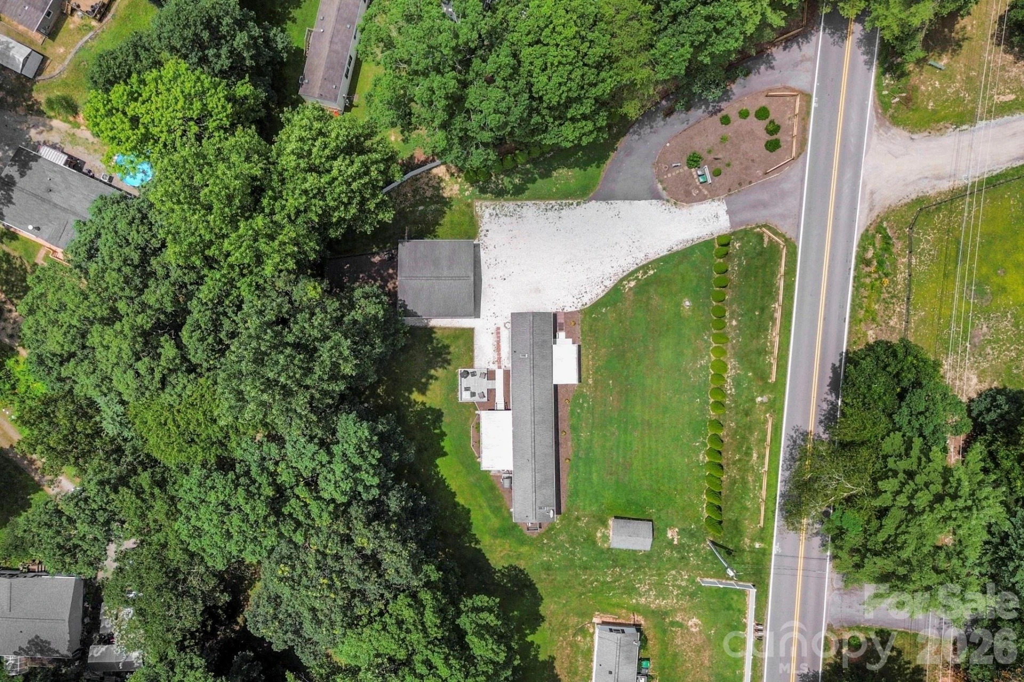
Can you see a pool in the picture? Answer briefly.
Yes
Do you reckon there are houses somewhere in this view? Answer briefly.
Yes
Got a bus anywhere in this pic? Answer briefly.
No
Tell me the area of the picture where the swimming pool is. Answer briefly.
top left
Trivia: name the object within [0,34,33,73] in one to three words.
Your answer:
shed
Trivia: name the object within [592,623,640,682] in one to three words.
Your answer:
house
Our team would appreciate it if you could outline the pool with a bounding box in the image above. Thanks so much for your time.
[110,155,156,190]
